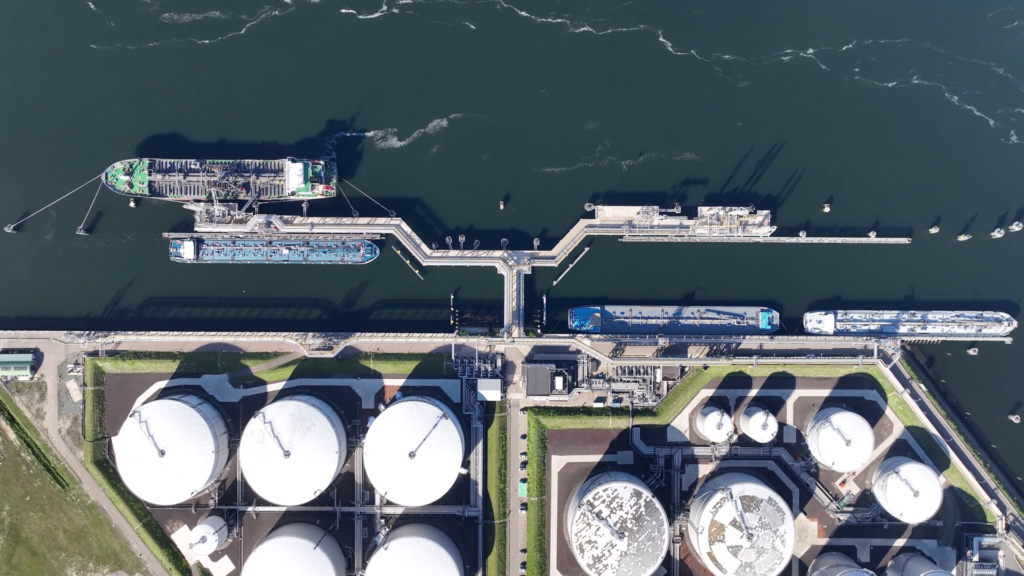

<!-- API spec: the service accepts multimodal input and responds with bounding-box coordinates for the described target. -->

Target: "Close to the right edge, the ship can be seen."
[802,310,1018,336]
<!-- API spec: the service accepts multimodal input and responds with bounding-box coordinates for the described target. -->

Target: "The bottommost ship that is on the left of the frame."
[170,239,380,264]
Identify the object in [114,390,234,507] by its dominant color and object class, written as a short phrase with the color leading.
white storage tank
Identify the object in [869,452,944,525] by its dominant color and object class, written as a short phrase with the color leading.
white storage tank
